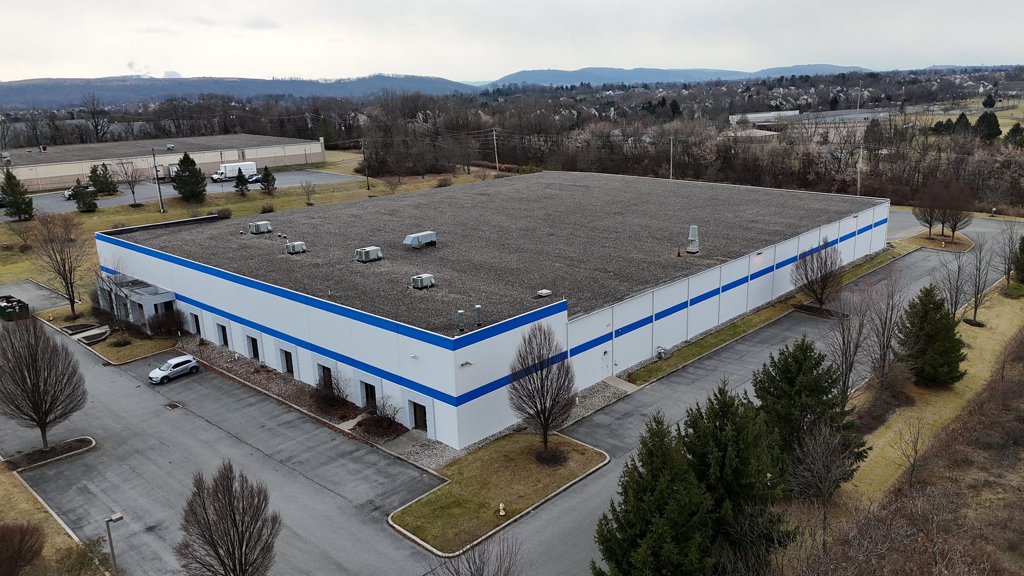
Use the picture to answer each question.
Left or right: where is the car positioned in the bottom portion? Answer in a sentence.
It is on the left.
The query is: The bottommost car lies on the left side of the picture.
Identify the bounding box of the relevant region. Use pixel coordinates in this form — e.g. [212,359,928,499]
[148,356,201,385]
